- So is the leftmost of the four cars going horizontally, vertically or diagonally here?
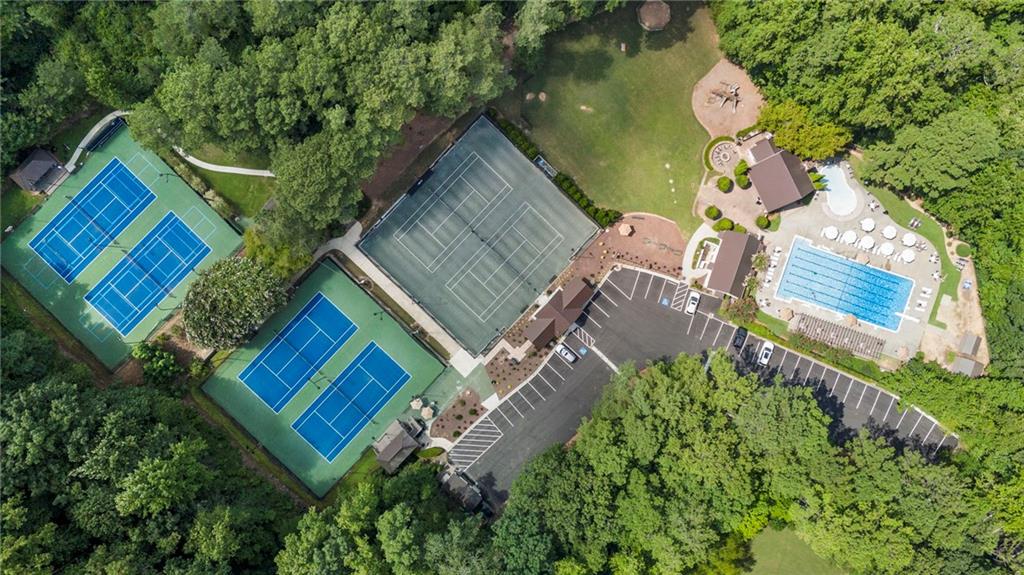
diagonally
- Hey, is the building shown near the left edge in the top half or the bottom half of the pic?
top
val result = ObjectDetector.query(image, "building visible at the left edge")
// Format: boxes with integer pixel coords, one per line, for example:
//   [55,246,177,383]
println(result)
[9,145,61,194]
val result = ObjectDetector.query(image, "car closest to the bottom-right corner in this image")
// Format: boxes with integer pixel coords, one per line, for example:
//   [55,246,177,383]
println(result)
[757,341,773,366]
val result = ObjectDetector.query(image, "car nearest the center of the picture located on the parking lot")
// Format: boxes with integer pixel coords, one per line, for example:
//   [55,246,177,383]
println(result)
[555,344,577,365]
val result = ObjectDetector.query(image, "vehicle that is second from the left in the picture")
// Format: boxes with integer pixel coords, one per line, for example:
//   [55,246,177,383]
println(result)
[685,291,699,315]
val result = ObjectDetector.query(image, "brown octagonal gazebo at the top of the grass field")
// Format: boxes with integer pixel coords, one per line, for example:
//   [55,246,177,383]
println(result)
[637,0,669,34]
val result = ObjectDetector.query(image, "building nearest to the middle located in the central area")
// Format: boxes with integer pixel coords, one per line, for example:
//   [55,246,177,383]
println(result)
[522,274,599,353]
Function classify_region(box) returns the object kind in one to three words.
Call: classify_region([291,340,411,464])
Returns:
tennis court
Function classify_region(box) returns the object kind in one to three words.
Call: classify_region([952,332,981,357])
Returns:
shed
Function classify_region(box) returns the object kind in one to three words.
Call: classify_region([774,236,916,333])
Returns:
swimming pool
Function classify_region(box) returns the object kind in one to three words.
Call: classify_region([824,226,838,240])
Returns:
umbrella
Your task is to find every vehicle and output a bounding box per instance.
[555,344,577,365]
[757,341,773,366]
[732,326,747,350]
[685,291,699,315]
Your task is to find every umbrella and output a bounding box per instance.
[900,249,914,263]
[842,230,856,244]
[844,315,856,325]
[859,236,873,250]
[901,234,915,247]
[410,397,422,410]
[824,226,838,240]
[779,308,792,321]
[879,242,893,256]
[860,217,874,231]
[882,226,896,239]
[619,223,633,236]
[856,253,868,265]
[422,407,434,420]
